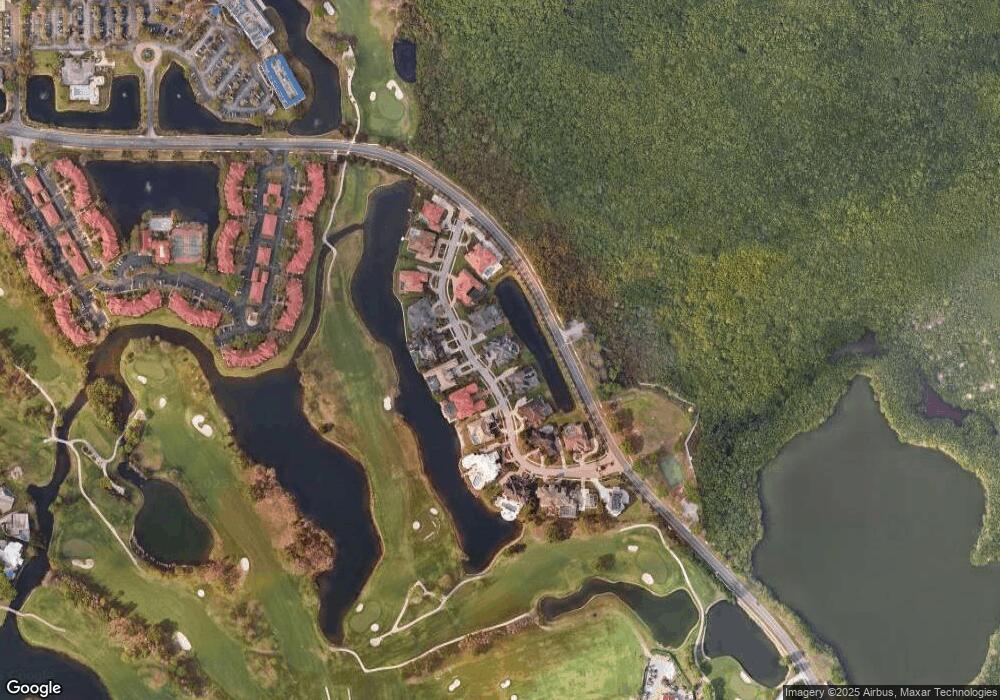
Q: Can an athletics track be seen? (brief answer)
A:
No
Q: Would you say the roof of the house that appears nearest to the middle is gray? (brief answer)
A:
Yes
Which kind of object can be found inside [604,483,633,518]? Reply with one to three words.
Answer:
house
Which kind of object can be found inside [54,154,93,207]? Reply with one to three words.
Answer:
building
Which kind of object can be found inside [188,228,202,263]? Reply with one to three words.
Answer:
tennis court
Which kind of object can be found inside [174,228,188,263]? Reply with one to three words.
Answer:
tennis court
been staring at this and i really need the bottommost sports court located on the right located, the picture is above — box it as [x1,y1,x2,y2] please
[661,456,684,490]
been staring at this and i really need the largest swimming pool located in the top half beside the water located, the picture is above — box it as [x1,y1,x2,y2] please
[148,216,172,231]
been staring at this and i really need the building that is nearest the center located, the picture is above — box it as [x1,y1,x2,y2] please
[479,337,521,364]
